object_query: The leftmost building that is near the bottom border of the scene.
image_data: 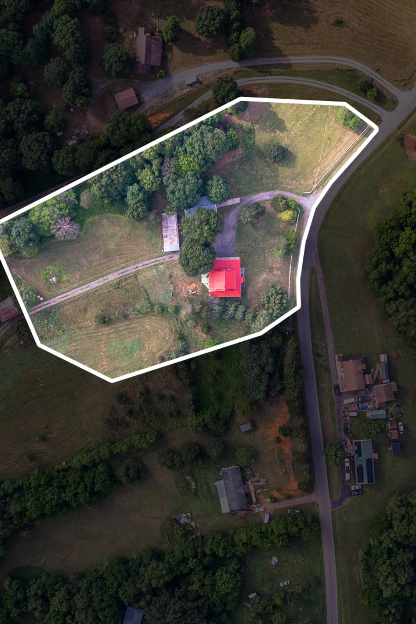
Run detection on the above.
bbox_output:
[123,606,144,624]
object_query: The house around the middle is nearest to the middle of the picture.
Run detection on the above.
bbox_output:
[207,257,245,297]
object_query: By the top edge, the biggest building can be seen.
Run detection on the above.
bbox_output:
[135,27,173,75]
